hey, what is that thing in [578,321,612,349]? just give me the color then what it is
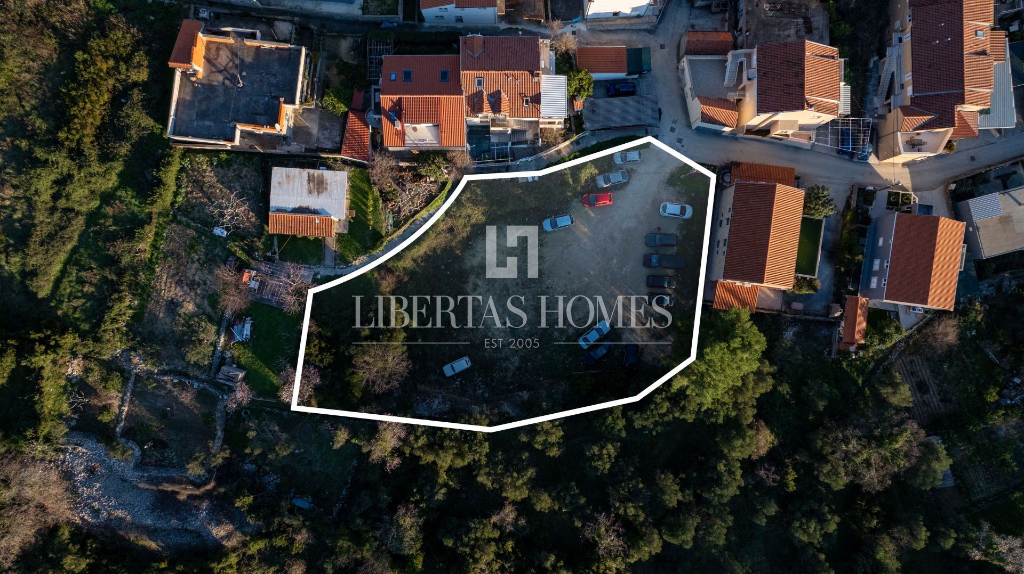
blue car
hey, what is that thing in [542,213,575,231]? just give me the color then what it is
blue car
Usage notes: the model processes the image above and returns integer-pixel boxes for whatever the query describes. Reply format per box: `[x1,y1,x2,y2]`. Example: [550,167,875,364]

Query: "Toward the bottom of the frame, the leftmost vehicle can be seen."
[441,356,472,378]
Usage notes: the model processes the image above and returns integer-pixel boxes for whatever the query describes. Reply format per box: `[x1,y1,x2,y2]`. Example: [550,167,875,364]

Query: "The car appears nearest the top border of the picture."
[607,79,637,95]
